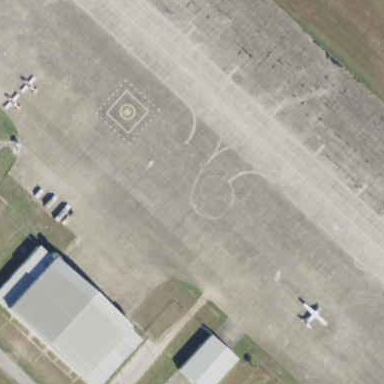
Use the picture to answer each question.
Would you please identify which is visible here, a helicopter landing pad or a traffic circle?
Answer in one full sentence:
The image shows a helicopter landing pad.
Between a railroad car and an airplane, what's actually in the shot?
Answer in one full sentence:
Of the two, only an airplane appears.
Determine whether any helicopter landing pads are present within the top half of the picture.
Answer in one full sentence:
Yes, a helicopter landing pad is visible within the top half of the picture.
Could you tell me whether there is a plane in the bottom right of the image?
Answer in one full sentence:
Yes, looking in the bottom right of the image, one can make out a plane.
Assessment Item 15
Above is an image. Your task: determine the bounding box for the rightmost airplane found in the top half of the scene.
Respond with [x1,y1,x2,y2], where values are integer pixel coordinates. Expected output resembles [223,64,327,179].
[22,78,37,94]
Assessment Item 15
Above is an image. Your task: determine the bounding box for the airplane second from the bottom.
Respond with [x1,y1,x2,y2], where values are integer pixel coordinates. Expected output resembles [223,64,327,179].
[6,95,20,110]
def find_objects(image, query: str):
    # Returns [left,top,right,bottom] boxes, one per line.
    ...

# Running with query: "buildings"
[176,334,240,384]
[0,244,142,384]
